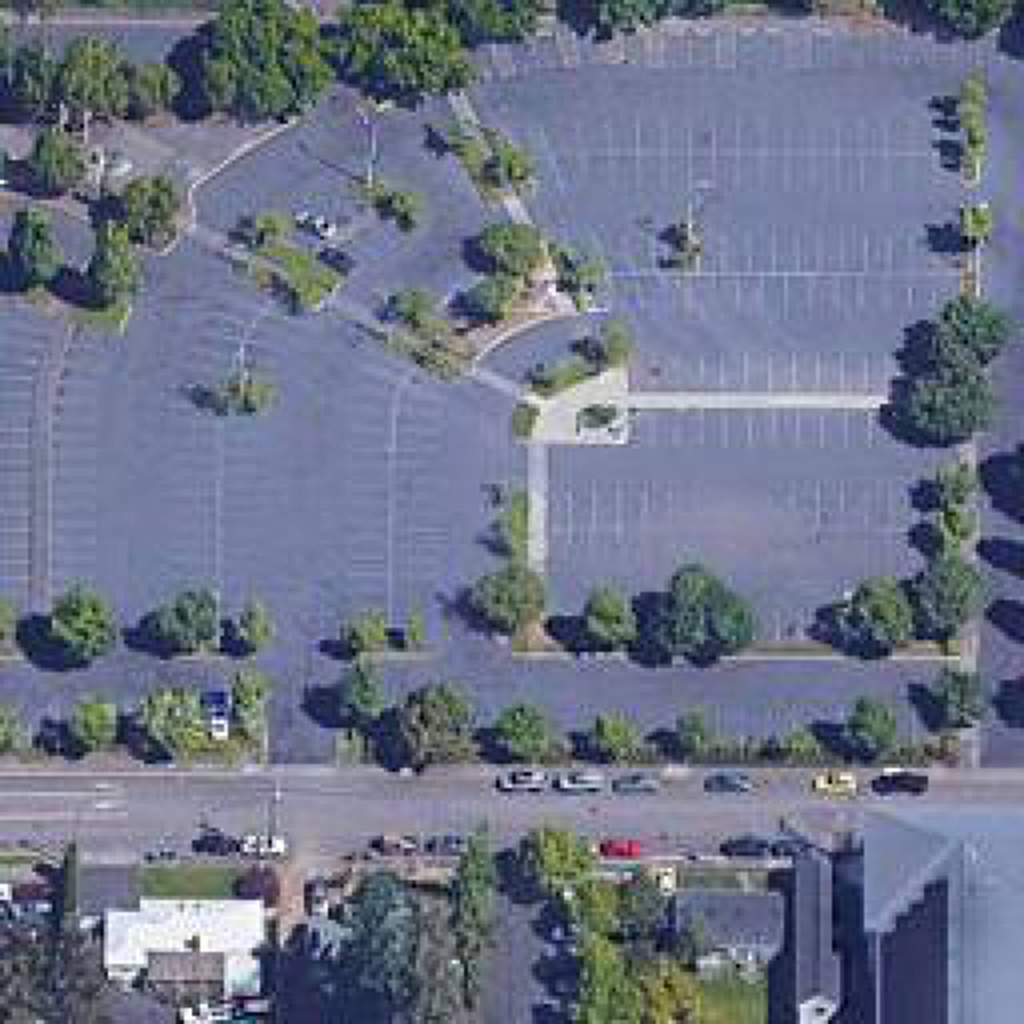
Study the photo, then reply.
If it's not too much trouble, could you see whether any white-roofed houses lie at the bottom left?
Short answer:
Yes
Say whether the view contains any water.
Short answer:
No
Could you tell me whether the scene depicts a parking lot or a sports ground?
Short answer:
parking lot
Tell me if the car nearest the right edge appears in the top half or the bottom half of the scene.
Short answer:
bottom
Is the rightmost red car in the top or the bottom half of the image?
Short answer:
bottom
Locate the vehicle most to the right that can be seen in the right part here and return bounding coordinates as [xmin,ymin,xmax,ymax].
[874,769,925,794]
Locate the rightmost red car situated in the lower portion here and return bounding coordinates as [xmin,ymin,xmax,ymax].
[598,837,642,859]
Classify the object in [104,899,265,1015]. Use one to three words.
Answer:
house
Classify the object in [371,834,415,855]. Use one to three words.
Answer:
car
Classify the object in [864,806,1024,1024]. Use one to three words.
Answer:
building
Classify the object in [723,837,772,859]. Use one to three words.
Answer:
car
